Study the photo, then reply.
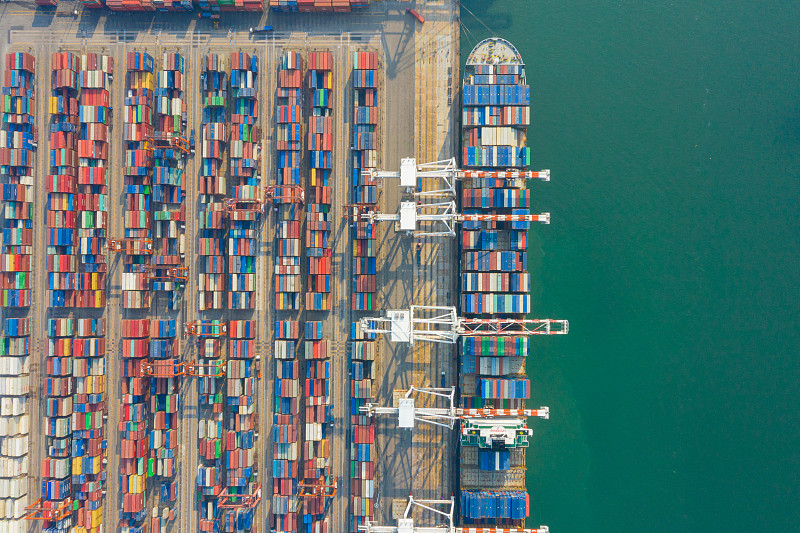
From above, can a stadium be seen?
No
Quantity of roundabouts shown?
0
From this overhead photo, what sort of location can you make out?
port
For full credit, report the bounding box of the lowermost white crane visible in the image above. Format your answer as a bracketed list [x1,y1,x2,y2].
[363,488,550,533]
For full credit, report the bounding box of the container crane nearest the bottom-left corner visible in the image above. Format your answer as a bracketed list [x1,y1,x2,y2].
[24,498,73,520]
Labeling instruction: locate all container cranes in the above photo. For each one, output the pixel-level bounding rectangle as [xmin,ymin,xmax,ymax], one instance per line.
[298,474,338,497]
[363,153,550,200]
[264,184,305,202]
[363,488,550,533]
[184,320,227,336]
[145,265,189,280]
[359,299,570,345]
[24,498,73,520]
[145,136,189,154]
[220,485,262,507]
[363,199,550,242]
[107,238,153,253]
[224,199,266,215]
[342,204,380,220]
[363,377,550,431]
